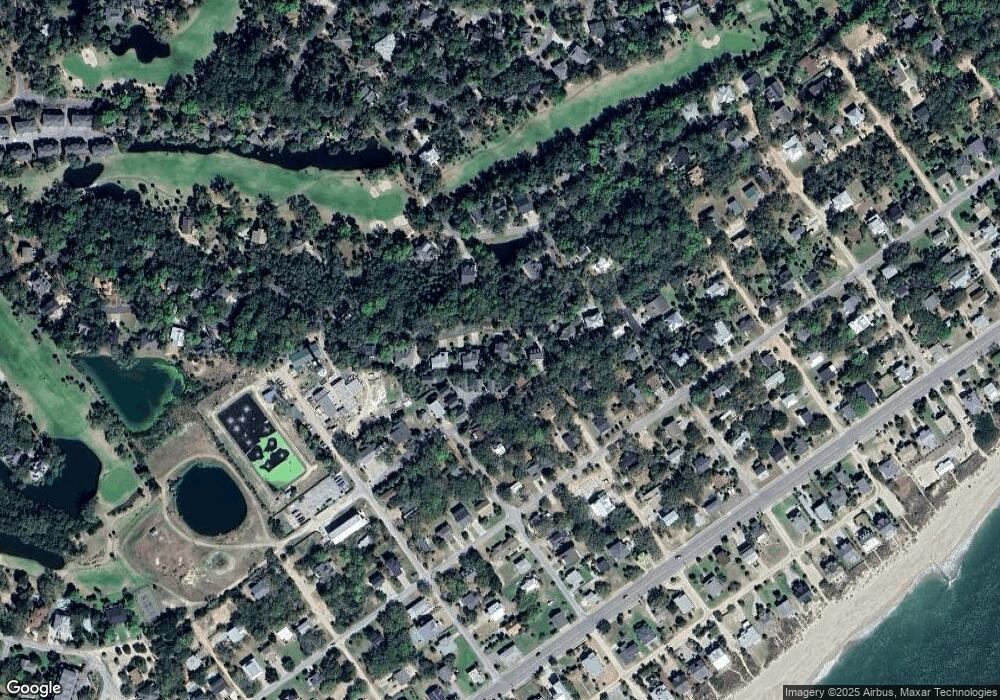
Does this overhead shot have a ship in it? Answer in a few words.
No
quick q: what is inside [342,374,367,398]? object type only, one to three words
building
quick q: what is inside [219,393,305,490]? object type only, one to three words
pond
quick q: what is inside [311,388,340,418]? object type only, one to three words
shed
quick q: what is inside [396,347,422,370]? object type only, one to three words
house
